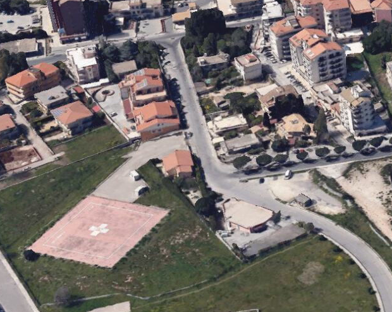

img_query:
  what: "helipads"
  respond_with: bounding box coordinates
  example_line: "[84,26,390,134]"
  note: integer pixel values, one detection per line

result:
[30,199,169,268]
